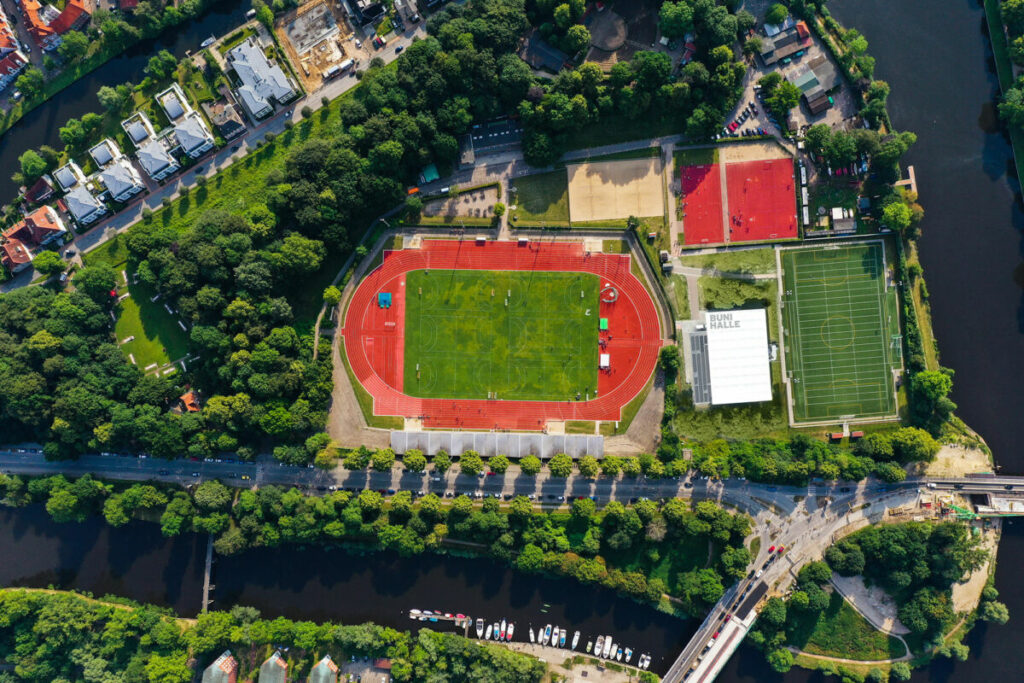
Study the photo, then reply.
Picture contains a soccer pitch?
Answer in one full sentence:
Yes, there's a soccer pitch down there.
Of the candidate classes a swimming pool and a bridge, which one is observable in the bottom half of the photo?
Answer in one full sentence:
There is a bridge in the bottom half of the photo.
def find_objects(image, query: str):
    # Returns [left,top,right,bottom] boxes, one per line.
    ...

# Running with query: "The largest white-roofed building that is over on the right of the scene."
[703,309,772,404]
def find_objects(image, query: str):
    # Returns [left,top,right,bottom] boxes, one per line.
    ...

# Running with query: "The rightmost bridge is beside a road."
[926,478,1024,523]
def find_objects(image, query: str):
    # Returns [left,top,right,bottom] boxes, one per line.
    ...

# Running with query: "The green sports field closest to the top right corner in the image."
[776,239,901,427]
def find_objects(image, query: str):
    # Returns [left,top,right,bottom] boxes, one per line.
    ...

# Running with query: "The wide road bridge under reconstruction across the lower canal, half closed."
[662,557,768,683]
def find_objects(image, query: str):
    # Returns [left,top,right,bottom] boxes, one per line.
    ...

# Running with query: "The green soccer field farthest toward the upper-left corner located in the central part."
[404,269,601,400]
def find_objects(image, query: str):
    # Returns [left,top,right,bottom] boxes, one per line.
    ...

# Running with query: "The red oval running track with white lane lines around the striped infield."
[339,235,664,434]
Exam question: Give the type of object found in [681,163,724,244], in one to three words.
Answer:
sports court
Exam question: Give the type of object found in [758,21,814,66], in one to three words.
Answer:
building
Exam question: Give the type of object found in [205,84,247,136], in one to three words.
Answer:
house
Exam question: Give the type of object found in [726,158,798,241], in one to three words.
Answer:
sports court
